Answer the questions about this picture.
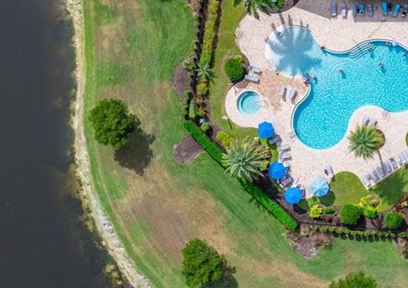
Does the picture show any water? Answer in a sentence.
Yes, some water is visible.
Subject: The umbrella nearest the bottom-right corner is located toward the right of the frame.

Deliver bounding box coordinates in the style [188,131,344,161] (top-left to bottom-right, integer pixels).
[310,176,330,196]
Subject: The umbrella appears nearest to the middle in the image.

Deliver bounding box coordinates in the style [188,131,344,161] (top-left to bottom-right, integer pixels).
[258,122,275,138]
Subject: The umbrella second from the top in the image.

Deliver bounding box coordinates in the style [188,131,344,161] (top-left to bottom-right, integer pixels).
[268,162,286,180]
